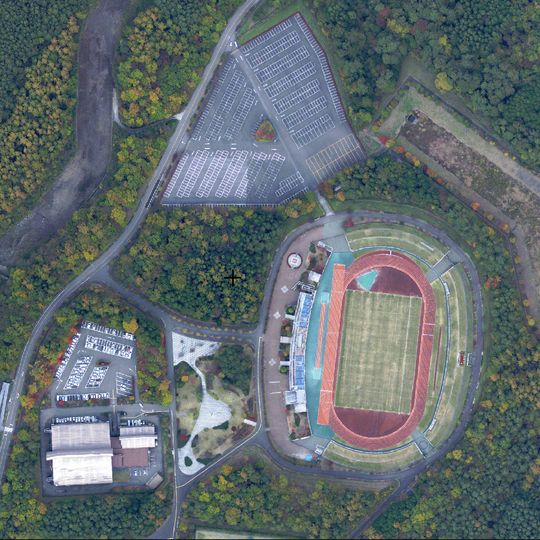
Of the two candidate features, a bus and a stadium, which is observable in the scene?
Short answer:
stadium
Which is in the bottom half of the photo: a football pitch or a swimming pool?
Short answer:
football pitch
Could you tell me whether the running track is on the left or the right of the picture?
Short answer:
right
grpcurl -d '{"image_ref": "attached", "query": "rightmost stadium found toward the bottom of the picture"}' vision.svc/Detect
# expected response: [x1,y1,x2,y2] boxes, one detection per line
[306,217,475,472]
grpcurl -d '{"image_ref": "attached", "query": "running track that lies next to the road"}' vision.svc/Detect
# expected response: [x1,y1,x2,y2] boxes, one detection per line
[319,251,435,450]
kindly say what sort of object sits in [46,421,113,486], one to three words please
building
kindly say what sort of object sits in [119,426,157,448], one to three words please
building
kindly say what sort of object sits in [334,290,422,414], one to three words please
soccer field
